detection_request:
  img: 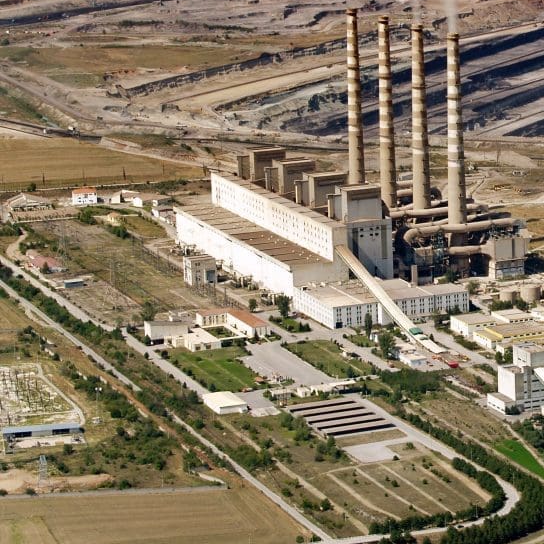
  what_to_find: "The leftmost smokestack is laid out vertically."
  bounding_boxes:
[348,11,364,184]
